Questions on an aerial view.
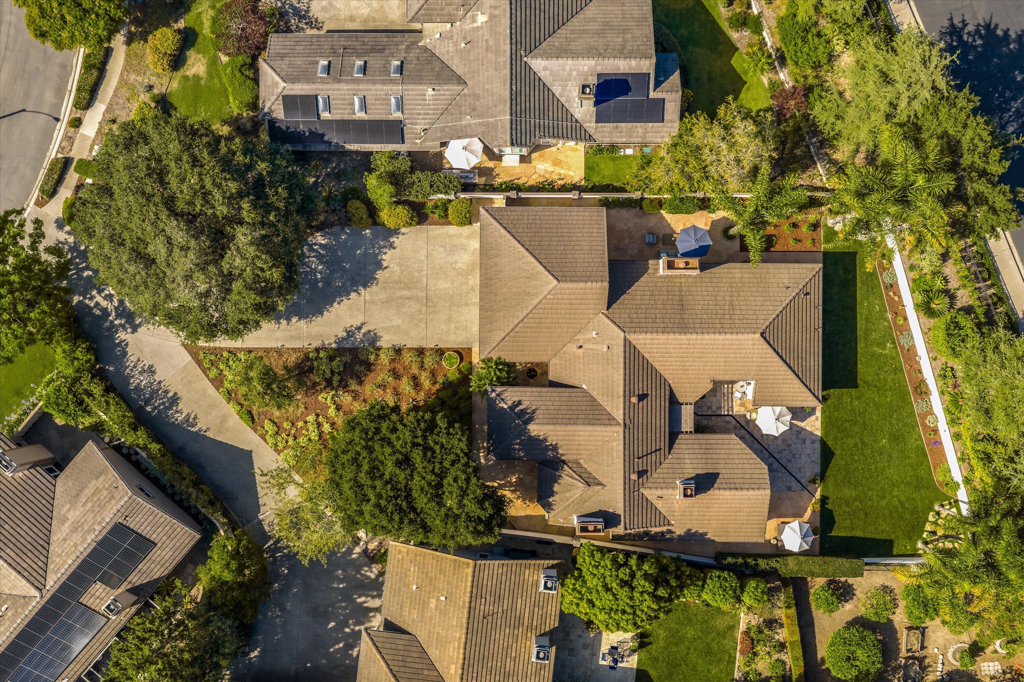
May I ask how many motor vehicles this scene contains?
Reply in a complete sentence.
The picture shows no motor vehicles.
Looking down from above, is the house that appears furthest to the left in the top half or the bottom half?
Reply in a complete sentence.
You can find the house that appears furthest to the left in the bottom half.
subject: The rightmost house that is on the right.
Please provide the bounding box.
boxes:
[478,206,824,544]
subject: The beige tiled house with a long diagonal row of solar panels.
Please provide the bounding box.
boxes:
[0,410,207,682]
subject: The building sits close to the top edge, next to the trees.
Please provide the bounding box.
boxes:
[258,0,683,164]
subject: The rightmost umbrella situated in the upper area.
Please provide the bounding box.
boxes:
[675,224,710,258]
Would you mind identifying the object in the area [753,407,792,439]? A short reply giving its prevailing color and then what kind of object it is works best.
white umbrella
